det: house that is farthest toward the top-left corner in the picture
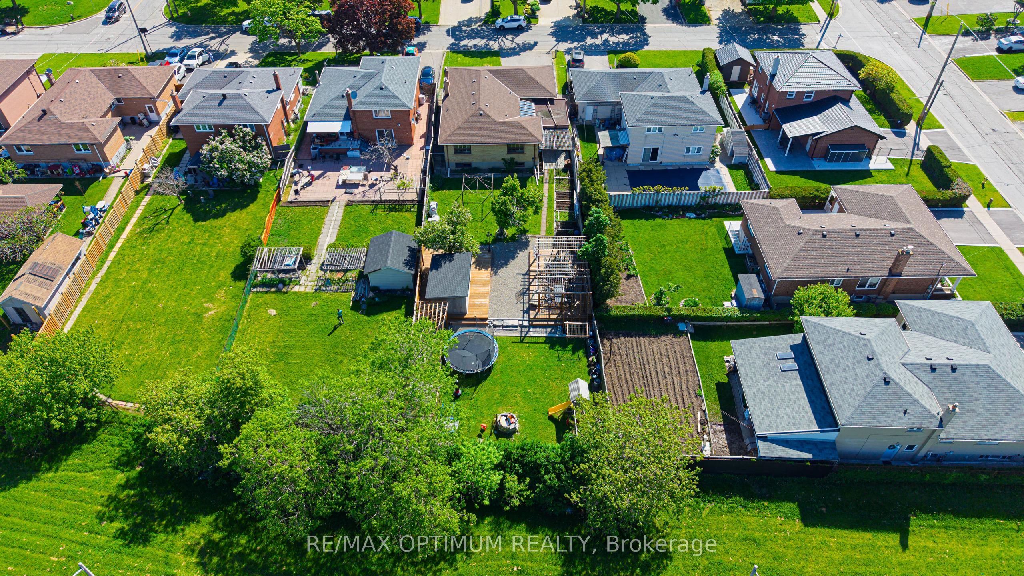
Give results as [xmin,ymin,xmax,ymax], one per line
[0,58,44,130]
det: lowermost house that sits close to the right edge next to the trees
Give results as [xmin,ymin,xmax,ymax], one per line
[727,299,1024,471]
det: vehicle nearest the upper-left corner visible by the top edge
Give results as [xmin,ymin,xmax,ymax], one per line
[99,0,131,22]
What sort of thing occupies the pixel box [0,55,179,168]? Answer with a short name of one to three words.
house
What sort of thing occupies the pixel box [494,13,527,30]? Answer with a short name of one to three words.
car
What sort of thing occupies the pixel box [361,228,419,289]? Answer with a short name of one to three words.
shed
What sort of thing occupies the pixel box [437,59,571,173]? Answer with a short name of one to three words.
house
